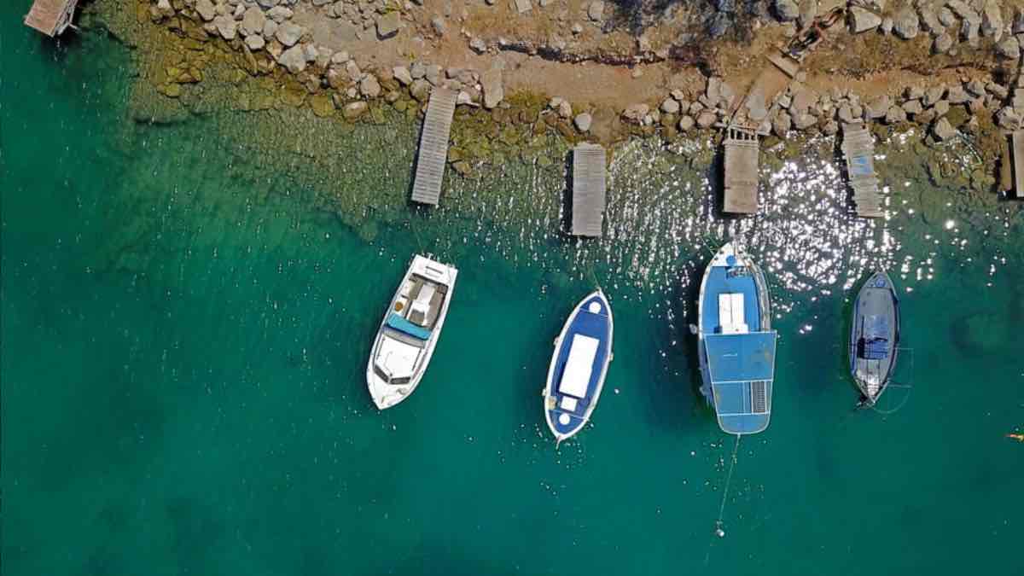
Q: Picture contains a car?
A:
No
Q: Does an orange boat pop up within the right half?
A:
No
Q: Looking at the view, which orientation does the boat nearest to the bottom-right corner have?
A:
vertically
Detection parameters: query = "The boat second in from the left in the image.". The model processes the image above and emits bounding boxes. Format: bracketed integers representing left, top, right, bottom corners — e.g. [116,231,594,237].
[544,288,614,448]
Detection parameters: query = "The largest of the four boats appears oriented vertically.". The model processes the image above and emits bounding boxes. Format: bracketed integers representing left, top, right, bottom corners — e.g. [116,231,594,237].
[696,239,777,434]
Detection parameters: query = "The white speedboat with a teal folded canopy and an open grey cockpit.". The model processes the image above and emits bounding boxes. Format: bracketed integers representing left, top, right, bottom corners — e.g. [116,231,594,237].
[366,253,459,411]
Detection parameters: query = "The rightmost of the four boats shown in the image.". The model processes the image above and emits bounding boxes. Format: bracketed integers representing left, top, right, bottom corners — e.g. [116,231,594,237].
[847,271,900,409]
